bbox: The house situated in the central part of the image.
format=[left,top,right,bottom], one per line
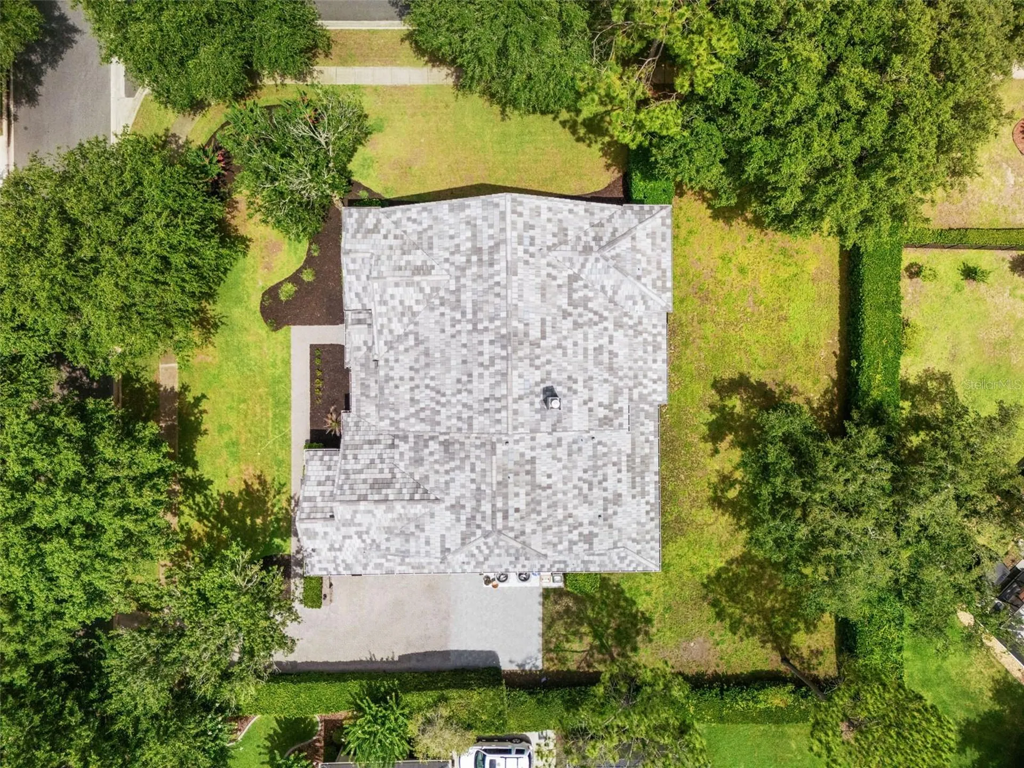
[295,192,674,577]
